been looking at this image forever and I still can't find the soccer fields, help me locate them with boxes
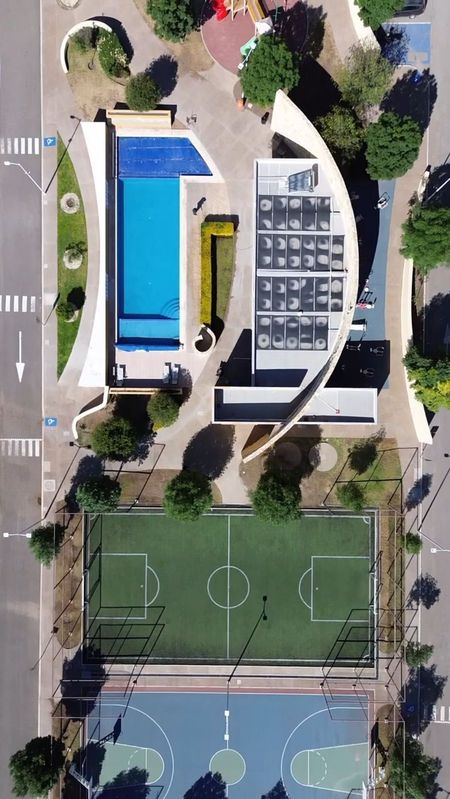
[83,510,377,667]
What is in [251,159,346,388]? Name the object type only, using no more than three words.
building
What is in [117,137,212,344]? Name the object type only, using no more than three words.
swimming pool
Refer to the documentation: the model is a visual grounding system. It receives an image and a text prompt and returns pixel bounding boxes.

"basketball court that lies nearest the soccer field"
[84,687,371,799]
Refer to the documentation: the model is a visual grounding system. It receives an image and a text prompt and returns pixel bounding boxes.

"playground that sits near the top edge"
[200,0,311,70]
